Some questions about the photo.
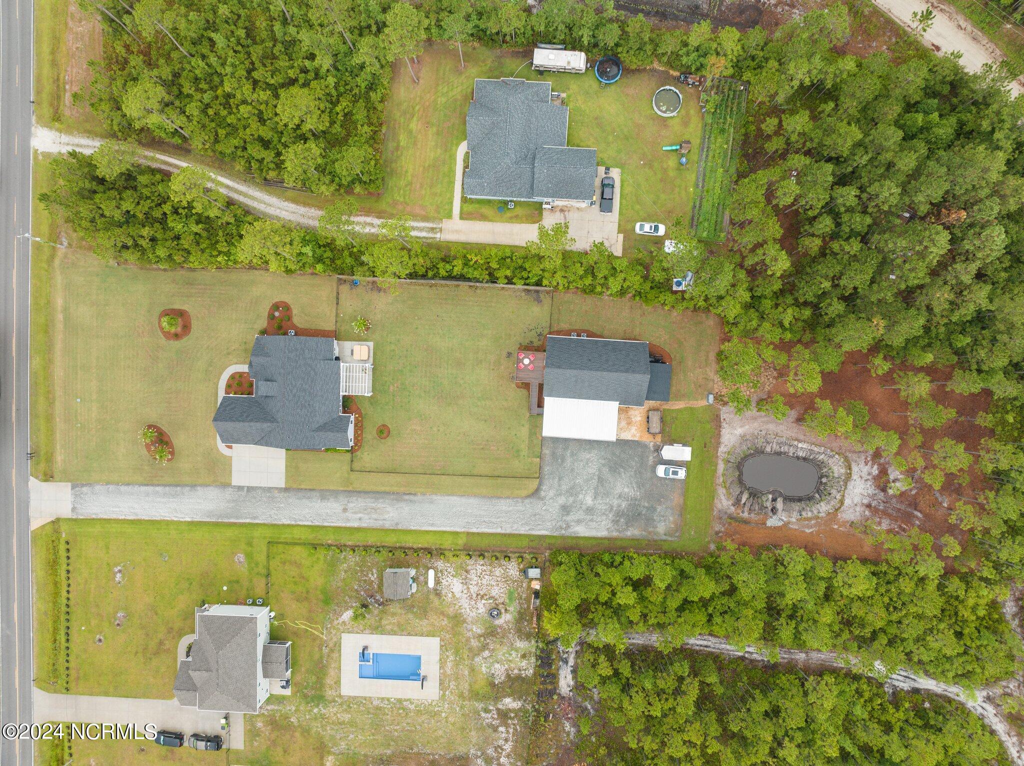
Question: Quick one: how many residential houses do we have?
4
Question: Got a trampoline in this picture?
Yes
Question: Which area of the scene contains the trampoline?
top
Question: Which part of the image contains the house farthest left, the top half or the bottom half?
bottom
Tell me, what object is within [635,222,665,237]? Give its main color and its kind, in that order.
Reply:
white car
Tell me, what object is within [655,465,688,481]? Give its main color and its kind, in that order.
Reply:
white car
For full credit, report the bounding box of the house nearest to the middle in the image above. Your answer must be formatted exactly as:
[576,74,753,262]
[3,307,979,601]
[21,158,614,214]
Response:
[542,335,672,442]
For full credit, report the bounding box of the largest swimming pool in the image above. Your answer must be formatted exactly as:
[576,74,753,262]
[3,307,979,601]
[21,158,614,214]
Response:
[341,634,440,700]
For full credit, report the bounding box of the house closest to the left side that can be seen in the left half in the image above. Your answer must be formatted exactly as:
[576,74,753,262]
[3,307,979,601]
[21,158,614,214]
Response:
[174,606,269,716]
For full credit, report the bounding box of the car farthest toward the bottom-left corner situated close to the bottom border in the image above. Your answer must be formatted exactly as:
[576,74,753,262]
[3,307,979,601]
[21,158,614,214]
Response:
[155,729,187,747]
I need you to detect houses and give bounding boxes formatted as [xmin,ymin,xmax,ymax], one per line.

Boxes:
[212,333,355,450]
[463,76,598,205]
[542,335,672,442]
[174,606,269,716]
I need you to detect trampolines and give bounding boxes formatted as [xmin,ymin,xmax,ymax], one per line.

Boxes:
[594,51,624,91]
